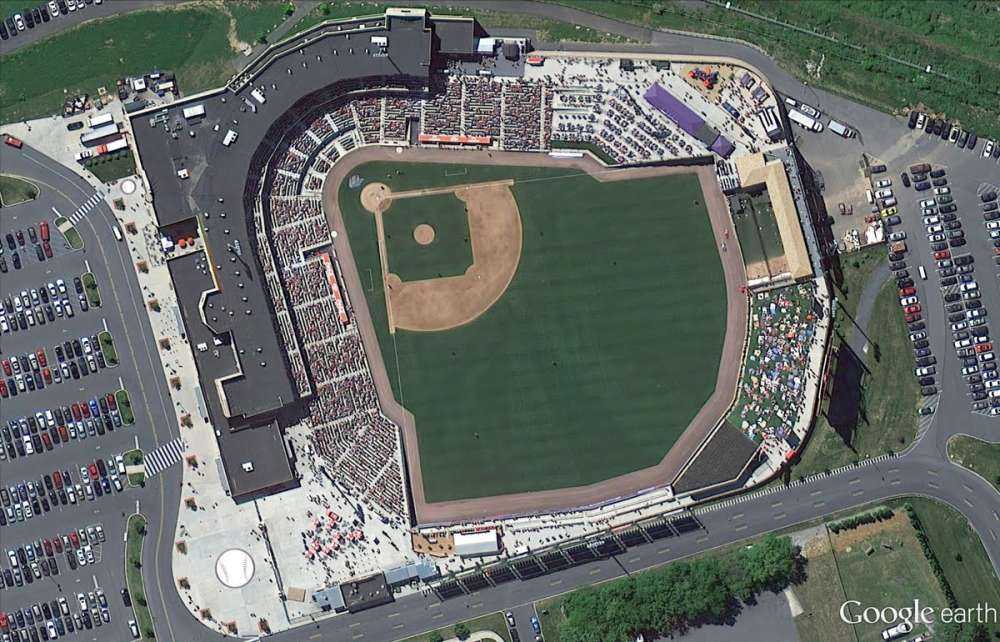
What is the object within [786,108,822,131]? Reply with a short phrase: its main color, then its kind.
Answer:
white truck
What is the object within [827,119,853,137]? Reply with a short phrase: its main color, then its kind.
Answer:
white vehicle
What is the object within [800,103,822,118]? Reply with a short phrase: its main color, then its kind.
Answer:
white vehicle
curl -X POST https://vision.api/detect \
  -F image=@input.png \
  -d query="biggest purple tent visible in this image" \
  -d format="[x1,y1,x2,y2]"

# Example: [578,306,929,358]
[645,81,706,136]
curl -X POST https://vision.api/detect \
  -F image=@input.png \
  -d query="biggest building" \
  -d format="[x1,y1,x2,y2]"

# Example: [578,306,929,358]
[127,12,475,497]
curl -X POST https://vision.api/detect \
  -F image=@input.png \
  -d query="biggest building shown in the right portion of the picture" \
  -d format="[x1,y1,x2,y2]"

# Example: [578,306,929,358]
[735,154,812,283]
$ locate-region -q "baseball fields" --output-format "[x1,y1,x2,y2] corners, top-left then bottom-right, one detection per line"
[322,148,749,526]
